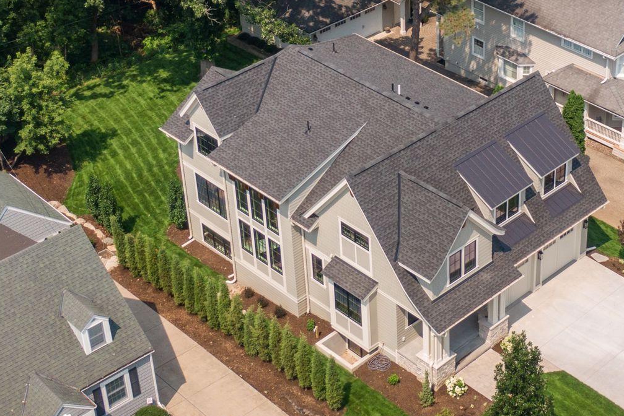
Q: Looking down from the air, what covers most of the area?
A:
buildings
